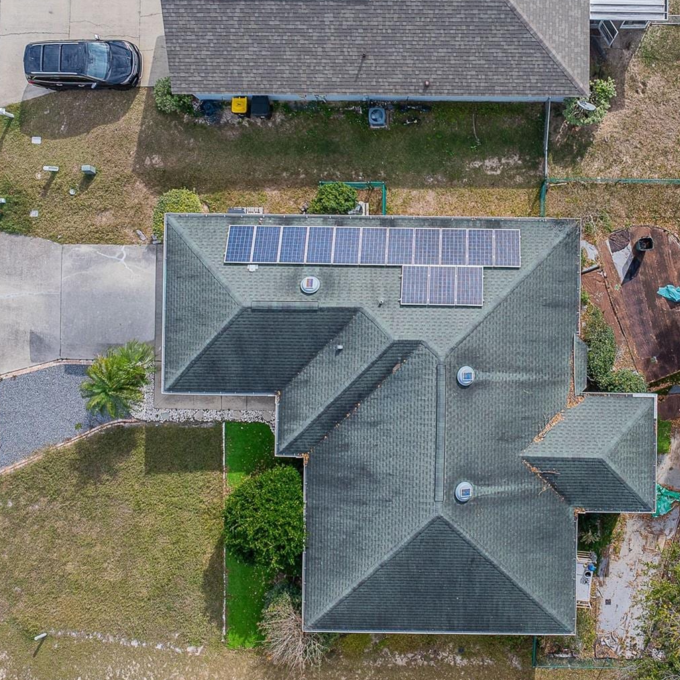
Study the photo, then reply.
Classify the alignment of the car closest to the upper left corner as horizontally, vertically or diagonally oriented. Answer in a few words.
horizontally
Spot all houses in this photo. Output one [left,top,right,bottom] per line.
[150,0,668,101]
[161,216,658,633]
